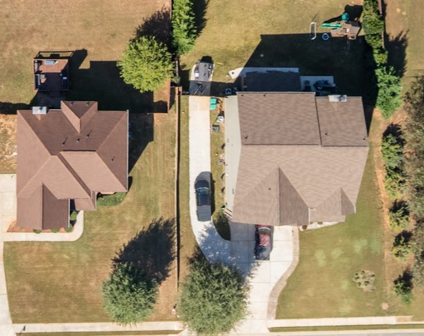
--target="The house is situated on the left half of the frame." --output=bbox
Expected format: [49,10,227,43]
[17,100,129,230]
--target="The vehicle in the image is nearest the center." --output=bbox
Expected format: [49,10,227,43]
[194,179,211,221]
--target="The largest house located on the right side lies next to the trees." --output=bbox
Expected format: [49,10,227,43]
[226,73,369,227]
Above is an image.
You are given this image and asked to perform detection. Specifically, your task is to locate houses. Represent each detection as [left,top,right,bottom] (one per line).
[226,73,369,227]
[17,100,129,230]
